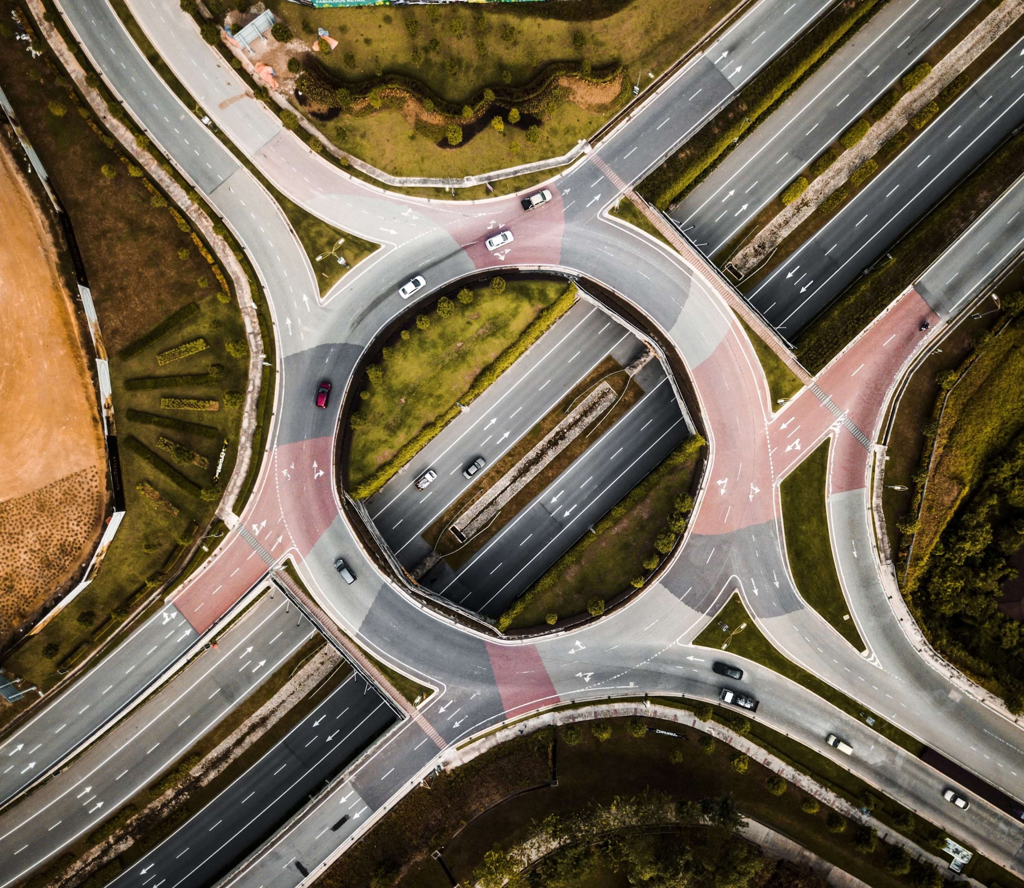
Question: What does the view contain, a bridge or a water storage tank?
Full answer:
Of the two, only a bridge appears.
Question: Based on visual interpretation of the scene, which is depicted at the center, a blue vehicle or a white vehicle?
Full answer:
The feature located at the center is a white vehicle.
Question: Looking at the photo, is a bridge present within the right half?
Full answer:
Yes, the scene does show a bridge within the right half.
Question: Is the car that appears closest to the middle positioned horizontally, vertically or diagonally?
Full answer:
I'd say the car that appears closest to the middle is aligned diagonally in the picture.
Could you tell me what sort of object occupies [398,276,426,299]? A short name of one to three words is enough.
car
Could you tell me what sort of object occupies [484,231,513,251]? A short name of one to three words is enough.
car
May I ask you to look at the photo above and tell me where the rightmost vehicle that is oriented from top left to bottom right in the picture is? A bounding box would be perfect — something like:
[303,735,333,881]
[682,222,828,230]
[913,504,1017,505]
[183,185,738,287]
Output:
[944,791,970,812]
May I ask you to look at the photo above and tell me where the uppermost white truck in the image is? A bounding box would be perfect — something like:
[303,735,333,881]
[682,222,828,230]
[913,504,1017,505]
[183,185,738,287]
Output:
[520,190,553,211]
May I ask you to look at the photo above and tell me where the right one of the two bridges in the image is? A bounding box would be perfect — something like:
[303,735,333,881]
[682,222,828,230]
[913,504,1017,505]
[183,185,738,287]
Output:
[570,182,820,434]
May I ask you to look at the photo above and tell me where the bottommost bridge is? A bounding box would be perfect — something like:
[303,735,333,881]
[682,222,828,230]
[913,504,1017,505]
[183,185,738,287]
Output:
[269,489,504,723]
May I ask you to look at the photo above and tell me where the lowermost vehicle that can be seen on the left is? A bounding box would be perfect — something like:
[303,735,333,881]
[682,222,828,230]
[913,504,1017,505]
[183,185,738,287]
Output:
[334,559,357,586]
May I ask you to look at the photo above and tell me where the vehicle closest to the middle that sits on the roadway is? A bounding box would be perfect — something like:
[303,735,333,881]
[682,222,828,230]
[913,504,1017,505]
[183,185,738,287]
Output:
[462,457,487,480]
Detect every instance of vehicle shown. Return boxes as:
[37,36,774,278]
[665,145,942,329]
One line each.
[484,231,513,251]
[719,688,760,714]
[316,382,331,409]
[334,559,357,586]
[944,791,970,812]
[412,468,440,494]
[462,457,487,480]
[713,662,743,681]
[520,190,553,211]
[826,735,855,757]
[398,276,426,299]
